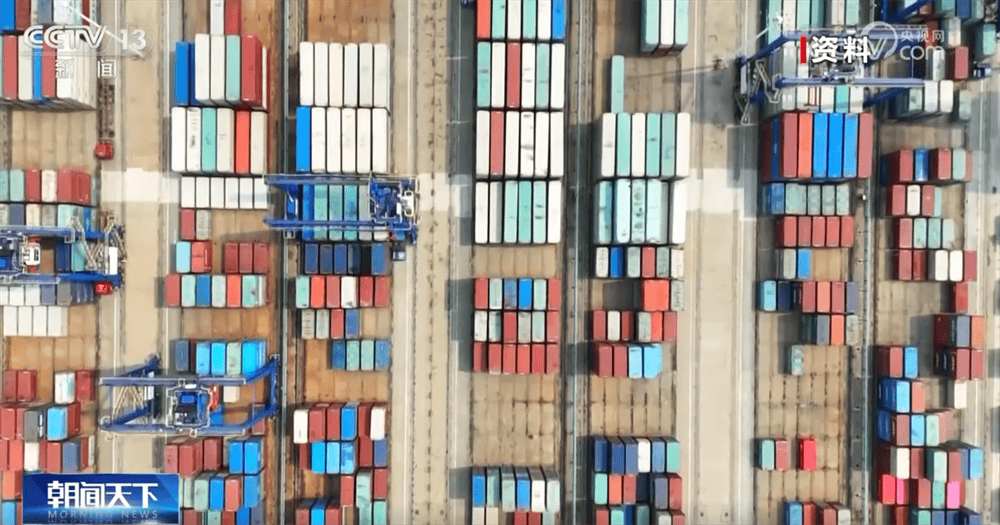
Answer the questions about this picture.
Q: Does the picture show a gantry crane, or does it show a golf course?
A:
gantry crane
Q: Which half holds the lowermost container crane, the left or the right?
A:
left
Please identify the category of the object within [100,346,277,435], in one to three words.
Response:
container crane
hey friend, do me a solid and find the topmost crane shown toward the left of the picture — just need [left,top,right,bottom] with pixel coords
[260,168,416,245]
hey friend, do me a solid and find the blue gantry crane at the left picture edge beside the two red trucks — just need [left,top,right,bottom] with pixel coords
[0,214,116,290]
